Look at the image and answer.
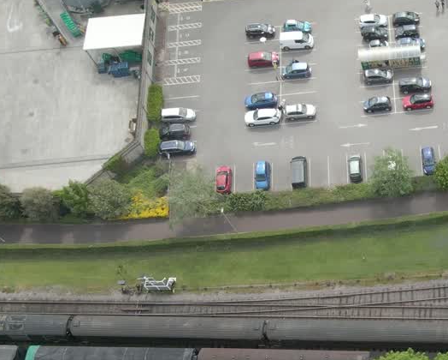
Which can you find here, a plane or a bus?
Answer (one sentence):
I can see a bus in this picture.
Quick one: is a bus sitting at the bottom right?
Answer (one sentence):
Yes, the scene does show a bus at the bottom right.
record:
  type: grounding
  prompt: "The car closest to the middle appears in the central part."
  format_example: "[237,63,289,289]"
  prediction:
[215,168,234,196]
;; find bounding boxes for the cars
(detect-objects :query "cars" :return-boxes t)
[390,11,422,28]
[362,96,393,114]
[281,104,319,122]
[345,154,364,185]
[362,69,393,87]
[253,162,272,191]
[246,107,281,128]
[281,63,312,80]
[398,76,433,95]
[358,25,391,43]
[246,51,281,69]
[397,36,427,51]
[243,22,278,42]
[283,20,311,33]
[404,94,433,111]
[159,122,192,140]
[356,13,390,29]
[160,139,198,159]
[246,92,278,110]
[393,24,422,40]
[420,147,436,176]
[163,107,197,125]
[215,168,234,196]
